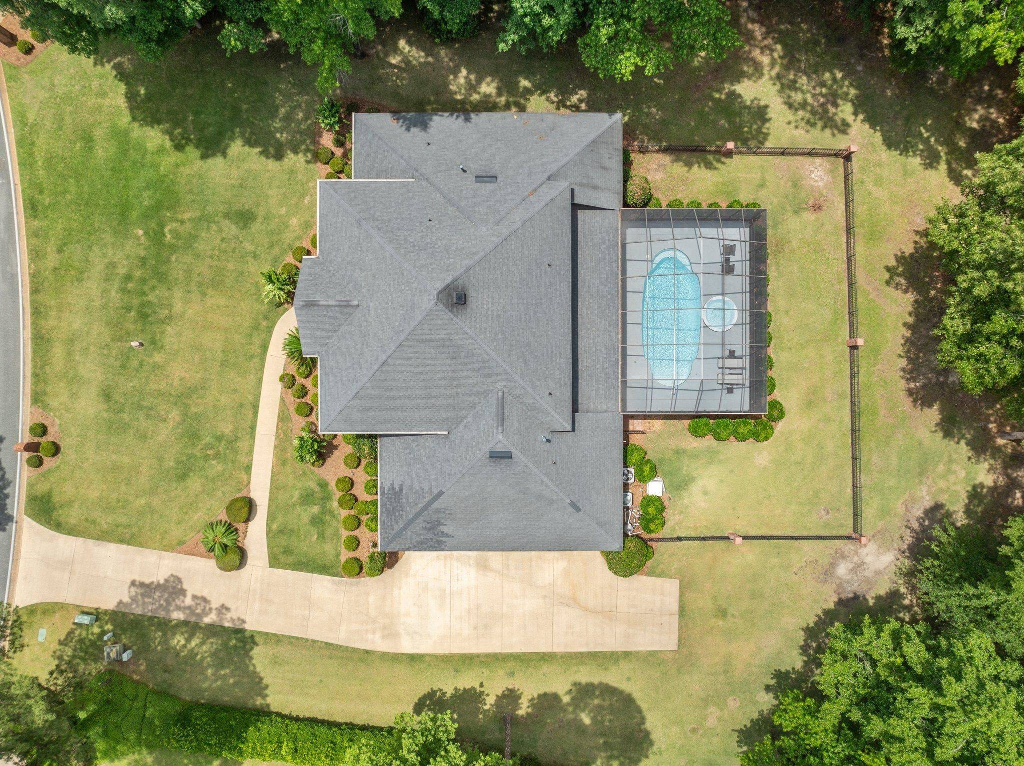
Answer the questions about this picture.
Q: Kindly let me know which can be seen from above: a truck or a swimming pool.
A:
swimming pool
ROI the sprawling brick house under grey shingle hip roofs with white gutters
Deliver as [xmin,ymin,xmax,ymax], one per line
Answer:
[294,111,624,553]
